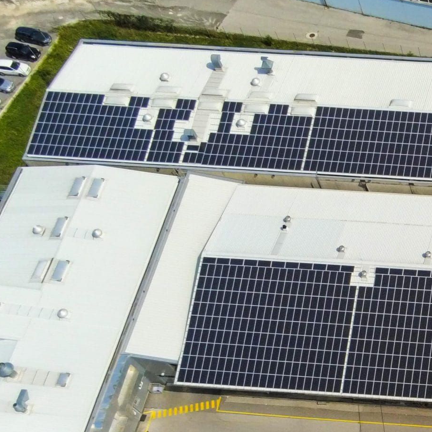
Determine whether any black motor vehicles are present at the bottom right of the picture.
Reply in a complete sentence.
No, I see no black motor vehicle at the bottom right of the picture.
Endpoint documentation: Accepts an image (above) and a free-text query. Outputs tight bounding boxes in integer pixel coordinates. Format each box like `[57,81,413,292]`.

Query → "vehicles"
[0,59,31,78]
[0,78,15,95]
[5,41,41,63]
[14,26,52,46]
